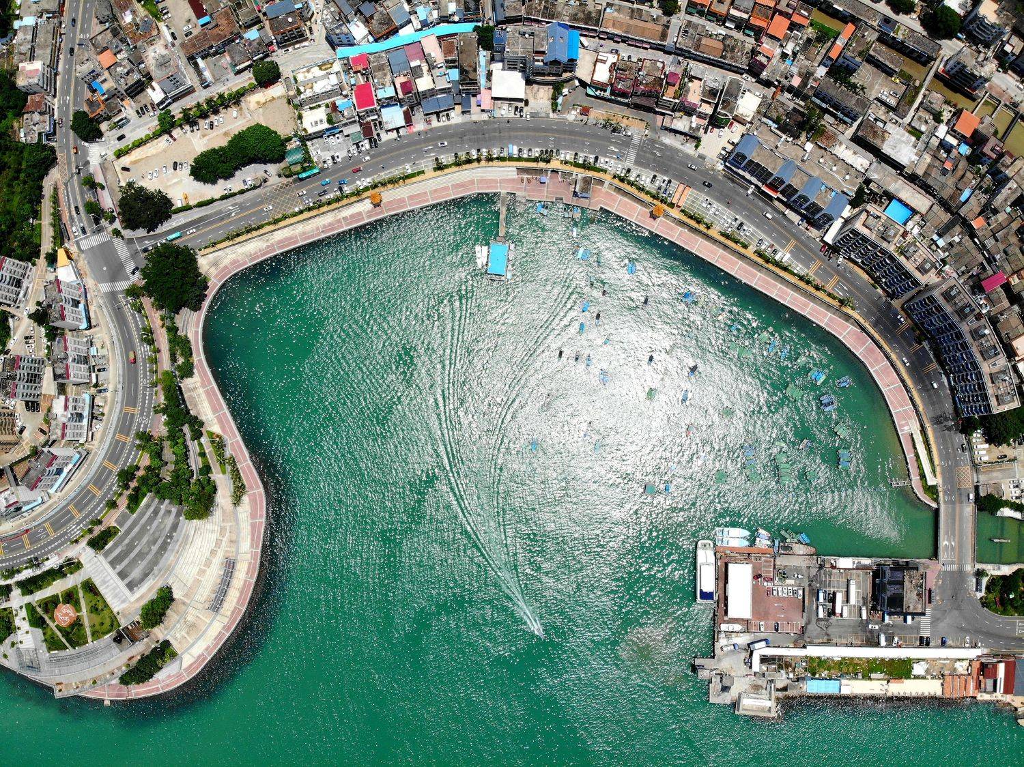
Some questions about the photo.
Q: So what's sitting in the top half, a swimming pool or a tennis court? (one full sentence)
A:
It is a swimming pool that can be seen in the top half.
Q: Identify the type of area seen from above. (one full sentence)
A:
What you see here is a residential area.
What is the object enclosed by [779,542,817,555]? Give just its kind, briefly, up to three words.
ship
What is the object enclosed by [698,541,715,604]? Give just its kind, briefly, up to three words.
ship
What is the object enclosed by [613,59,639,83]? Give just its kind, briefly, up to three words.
house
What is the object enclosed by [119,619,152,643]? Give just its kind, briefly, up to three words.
building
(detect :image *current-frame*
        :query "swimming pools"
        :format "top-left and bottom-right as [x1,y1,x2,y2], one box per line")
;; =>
[879,197,916,227]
